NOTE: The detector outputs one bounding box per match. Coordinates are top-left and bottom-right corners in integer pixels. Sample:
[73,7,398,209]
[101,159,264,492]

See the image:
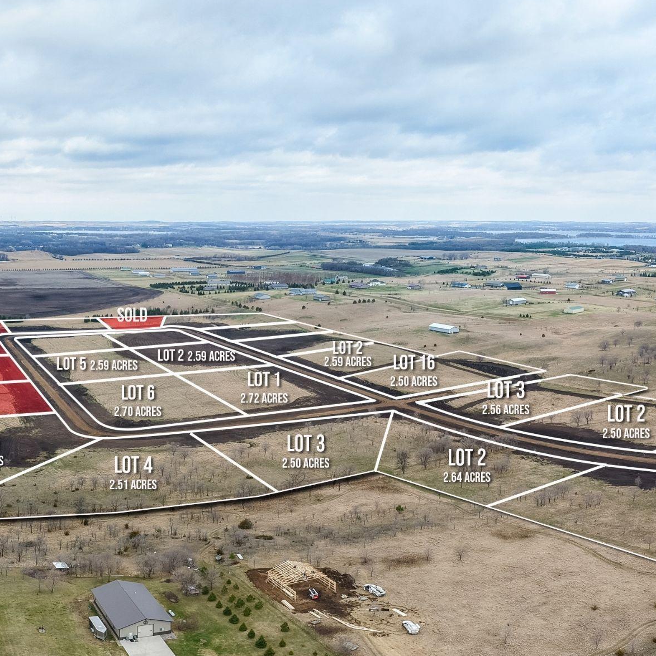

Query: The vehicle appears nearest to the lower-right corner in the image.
[405,621,422,634]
